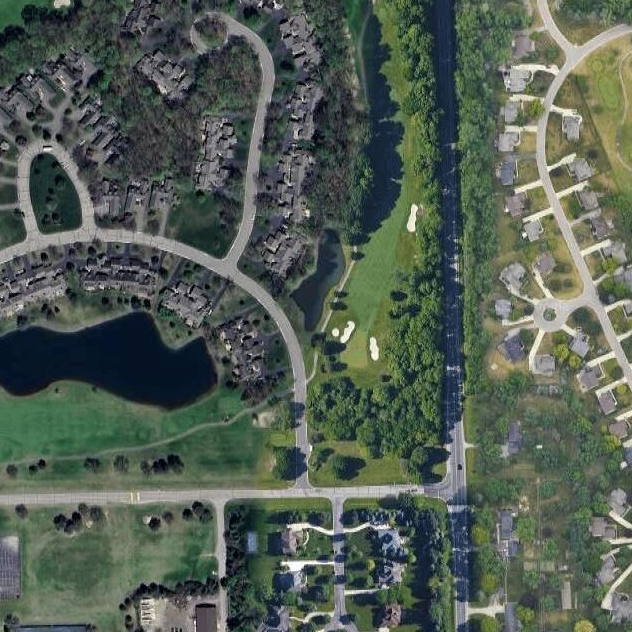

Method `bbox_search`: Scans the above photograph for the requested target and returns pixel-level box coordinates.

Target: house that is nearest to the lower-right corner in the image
[608,598,632,620]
